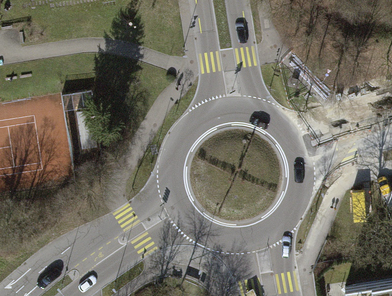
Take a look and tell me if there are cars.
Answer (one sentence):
Yes, looking at the shot, I can spot a car.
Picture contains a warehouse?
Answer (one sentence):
No, there is no warehouse in the image.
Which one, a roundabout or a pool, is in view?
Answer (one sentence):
Of the two, only a roundabout appears.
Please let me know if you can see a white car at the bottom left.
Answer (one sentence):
Yes, a white car appears at the bottom left.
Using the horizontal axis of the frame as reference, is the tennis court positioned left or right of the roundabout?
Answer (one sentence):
In the image, the tennis court sits on the left side of the roundabout.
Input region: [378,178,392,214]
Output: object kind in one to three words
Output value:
vehicle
